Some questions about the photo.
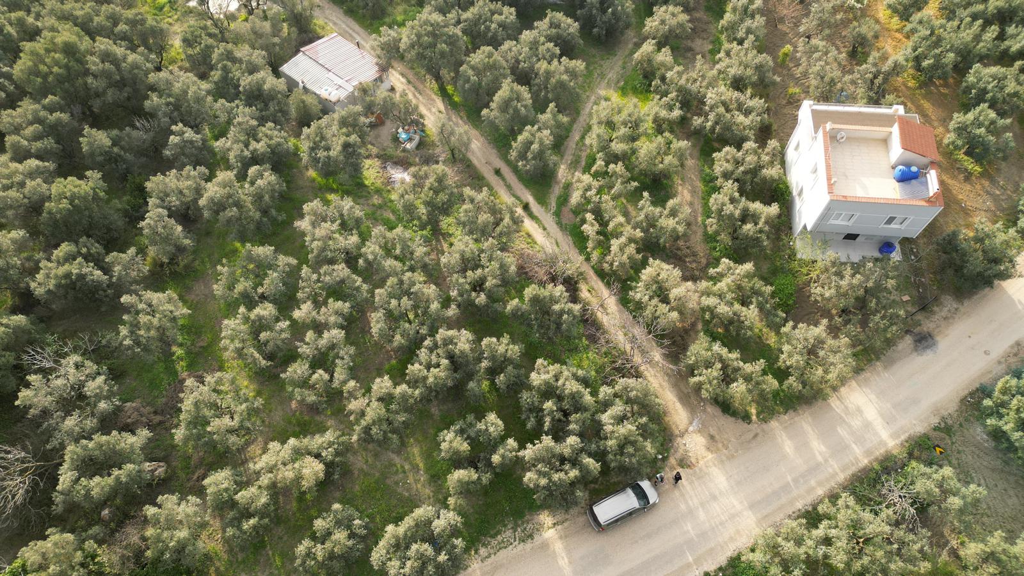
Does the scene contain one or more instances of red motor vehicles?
No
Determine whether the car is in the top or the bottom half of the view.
bottom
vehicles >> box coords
[586,484,660,533]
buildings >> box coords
[283,25,387,121]
[781,100,944,270]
